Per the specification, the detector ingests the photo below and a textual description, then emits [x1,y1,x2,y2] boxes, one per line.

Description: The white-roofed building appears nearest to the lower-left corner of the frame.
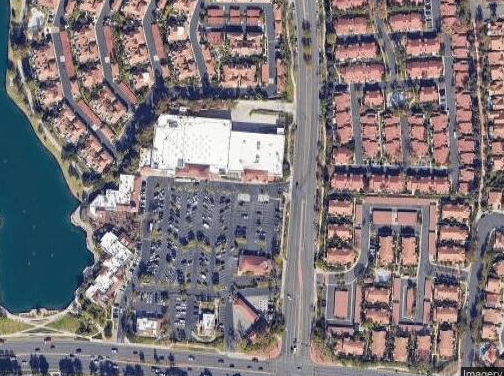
[86,274,111,297]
